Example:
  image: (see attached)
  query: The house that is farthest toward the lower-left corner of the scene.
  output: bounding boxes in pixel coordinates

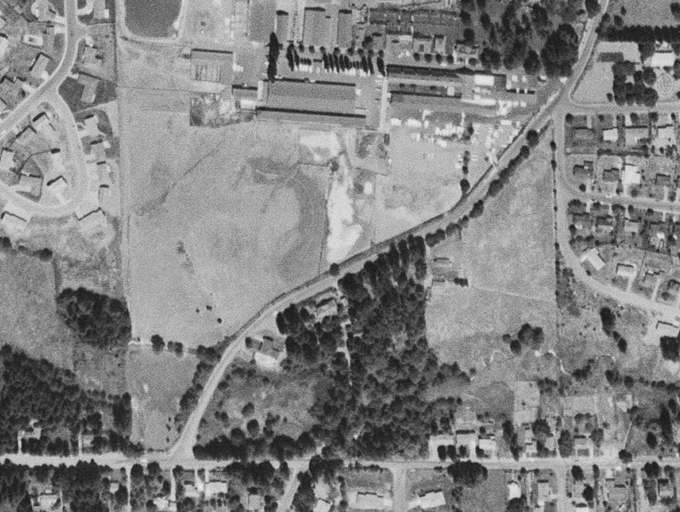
[39,494,61,511]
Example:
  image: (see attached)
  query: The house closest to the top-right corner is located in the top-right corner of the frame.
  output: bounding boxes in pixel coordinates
[653,50,676,66]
